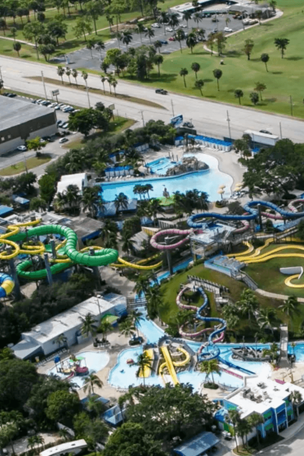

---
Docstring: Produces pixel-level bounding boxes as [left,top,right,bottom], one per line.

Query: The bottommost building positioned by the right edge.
[223,375,304,442]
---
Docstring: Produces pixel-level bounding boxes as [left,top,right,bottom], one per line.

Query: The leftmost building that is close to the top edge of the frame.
[170,1,198,20]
